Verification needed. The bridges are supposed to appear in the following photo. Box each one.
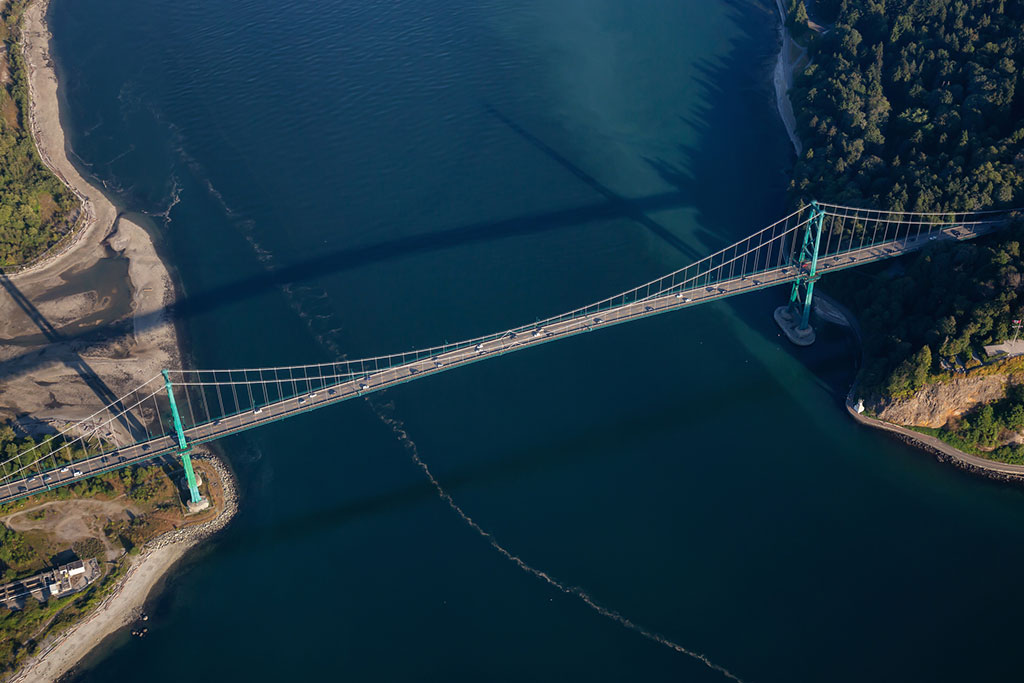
[0,201,1024,508]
